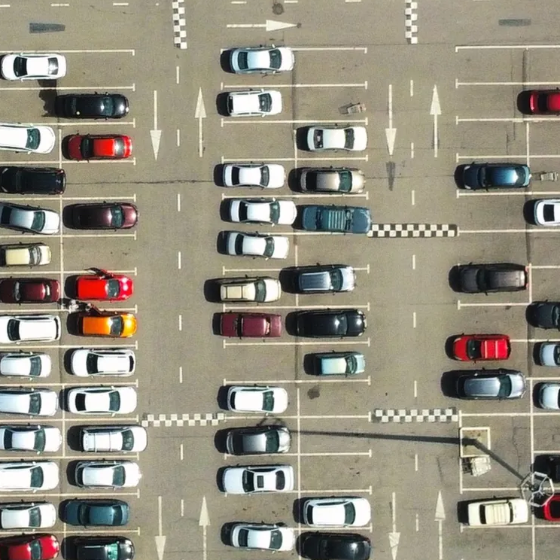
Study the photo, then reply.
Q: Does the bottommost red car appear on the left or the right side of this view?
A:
left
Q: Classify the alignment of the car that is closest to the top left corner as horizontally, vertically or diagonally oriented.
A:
horizontally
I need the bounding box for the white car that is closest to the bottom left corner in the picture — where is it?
[0,501,56,533]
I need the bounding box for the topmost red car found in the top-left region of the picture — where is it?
[64,131,133,162]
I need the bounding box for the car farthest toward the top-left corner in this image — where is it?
[1,51,67,82]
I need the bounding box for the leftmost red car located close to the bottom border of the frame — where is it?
[0,533,60,560]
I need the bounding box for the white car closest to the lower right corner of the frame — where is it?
[466,496,528,529]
